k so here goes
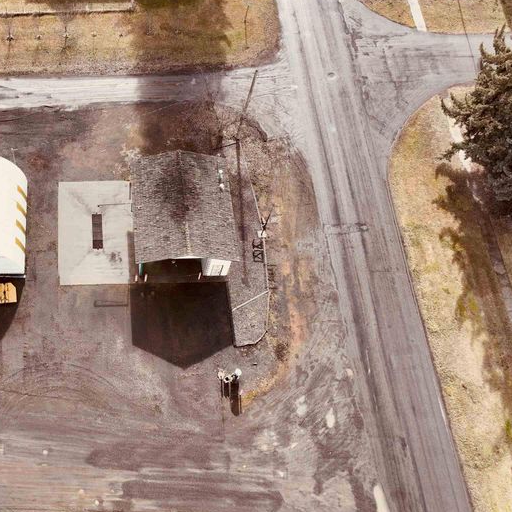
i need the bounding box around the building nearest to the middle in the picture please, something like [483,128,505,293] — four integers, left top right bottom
[128,145,243,278]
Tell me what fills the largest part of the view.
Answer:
paved ground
